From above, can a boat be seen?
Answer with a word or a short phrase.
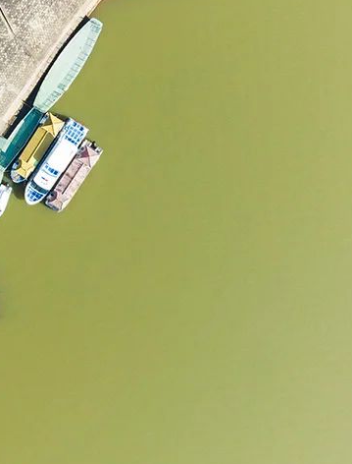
Yes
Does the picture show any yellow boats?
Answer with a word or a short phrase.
Yes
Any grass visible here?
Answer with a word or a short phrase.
No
